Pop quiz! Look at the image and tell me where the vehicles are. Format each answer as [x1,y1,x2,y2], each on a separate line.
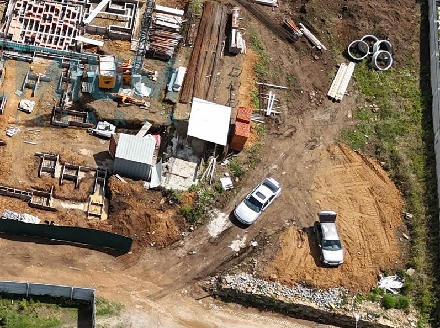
[316,207,348,268]
[232,174,285,229]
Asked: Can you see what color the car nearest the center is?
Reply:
white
